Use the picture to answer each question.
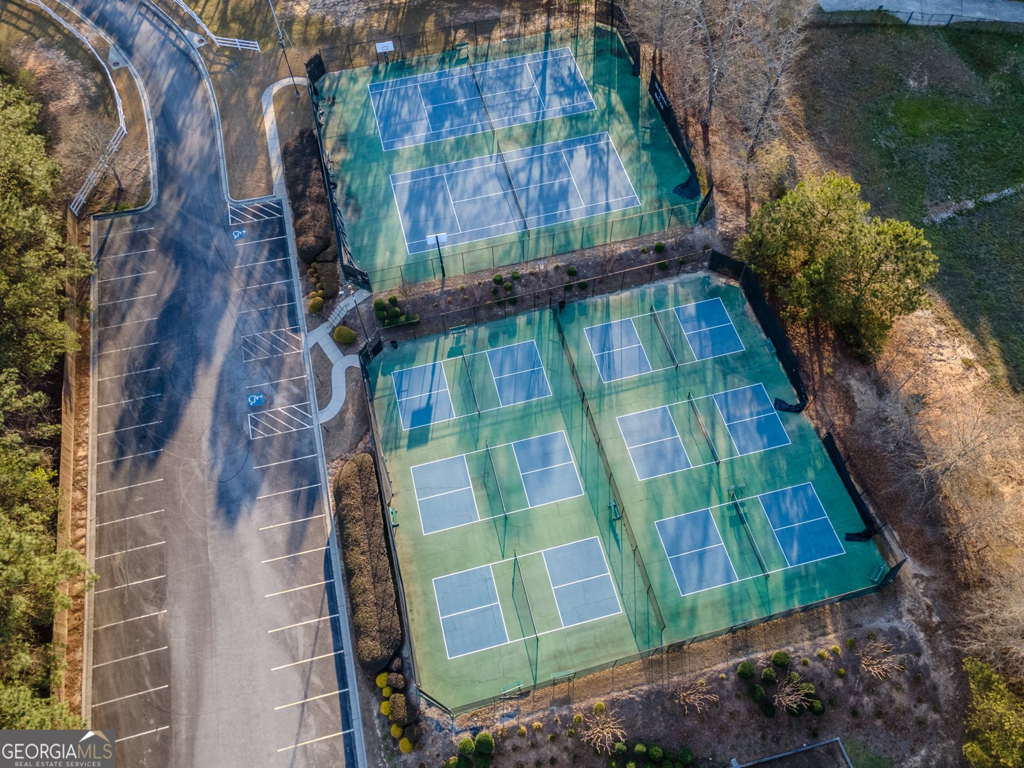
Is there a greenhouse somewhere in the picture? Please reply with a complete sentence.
No, there is no greenhouse in the image.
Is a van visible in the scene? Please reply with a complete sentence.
No, there appears to be no van in this shot.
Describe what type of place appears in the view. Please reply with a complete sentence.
This image shows a sports ground.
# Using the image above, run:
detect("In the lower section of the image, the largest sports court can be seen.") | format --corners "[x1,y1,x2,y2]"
[369,270,888,716]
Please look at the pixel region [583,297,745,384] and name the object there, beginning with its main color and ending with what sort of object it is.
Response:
blue sports court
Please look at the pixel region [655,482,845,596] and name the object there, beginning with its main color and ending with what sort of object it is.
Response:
blue sports court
